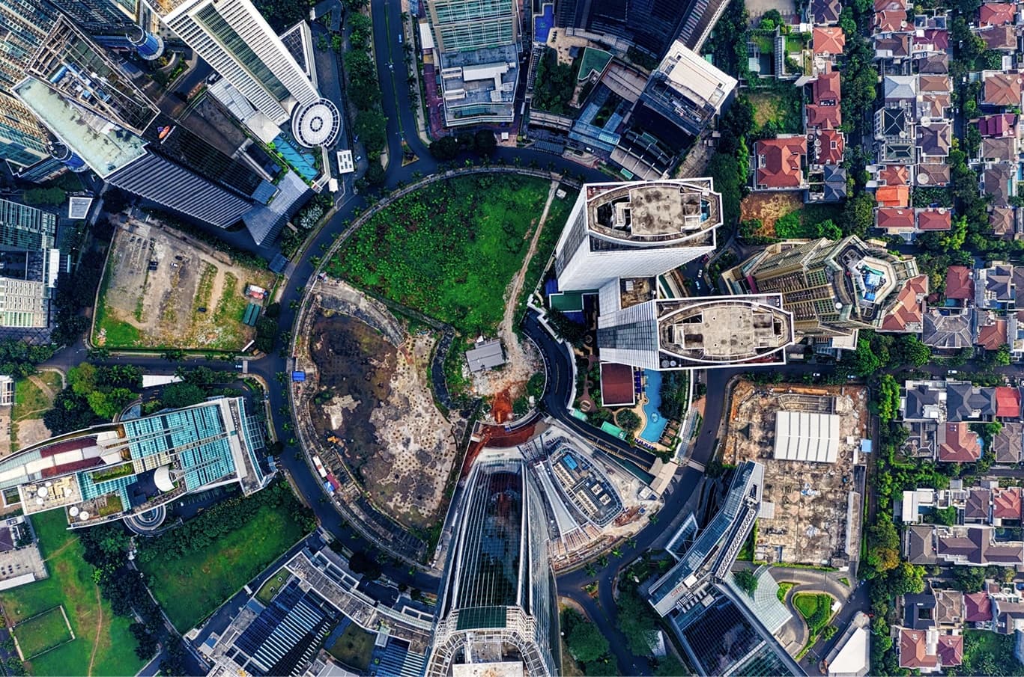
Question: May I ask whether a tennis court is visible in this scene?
Yes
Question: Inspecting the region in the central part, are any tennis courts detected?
Yes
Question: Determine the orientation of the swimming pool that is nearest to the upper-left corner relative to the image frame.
diagonally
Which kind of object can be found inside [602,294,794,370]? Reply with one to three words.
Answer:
building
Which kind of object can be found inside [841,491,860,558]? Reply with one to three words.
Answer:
shed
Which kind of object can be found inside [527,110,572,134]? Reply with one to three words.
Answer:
building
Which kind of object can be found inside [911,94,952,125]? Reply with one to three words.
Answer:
house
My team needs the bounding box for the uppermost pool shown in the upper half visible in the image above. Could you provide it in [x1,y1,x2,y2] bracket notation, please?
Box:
[534,3,554,42]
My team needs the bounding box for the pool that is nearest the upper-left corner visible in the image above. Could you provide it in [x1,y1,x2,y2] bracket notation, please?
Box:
[273,135,318,180]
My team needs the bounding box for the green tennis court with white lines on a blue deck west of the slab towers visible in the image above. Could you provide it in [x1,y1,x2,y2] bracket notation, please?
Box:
[547,277,599,326]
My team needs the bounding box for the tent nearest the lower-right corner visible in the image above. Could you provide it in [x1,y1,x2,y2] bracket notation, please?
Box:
[771,410,840,463]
